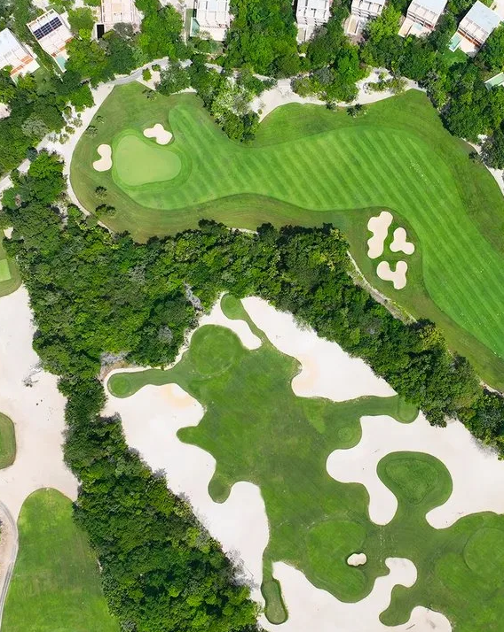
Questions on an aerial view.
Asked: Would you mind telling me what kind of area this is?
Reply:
golf course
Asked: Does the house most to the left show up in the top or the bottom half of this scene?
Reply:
top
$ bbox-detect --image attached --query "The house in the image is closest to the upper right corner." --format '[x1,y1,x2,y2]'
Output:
[456,1,501,55]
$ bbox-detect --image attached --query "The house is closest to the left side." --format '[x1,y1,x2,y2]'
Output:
[0,26,41,80]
